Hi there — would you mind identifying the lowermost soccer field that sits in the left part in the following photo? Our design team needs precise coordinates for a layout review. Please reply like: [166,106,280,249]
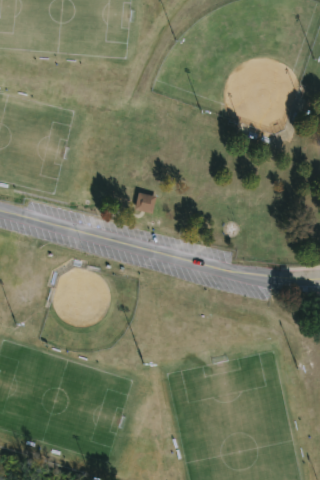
[0,339,133,464]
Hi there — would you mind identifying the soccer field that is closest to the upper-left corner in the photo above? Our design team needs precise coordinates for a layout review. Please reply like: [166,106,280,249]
[0,0,132,60]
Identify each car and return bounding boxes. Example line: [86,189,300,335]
[151,233,157,244]
[192,259,202,264]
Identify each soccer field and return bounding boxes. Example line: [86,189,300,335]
[0,92,74,194]
[0,339,133,464]
[166,350,302,480]
[0,0,132,60]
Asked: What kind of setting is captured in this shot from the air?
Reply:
sports ground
